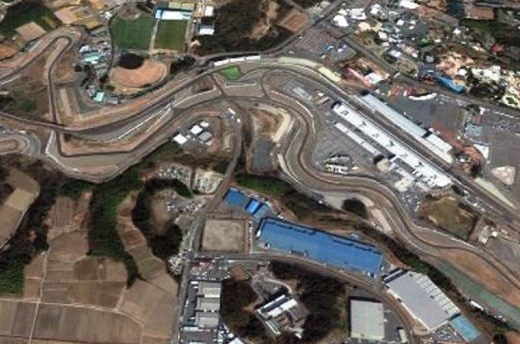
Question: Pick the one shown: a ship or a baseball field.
baseball field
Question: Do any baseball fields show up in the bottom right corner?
No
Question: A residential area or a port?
residential area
